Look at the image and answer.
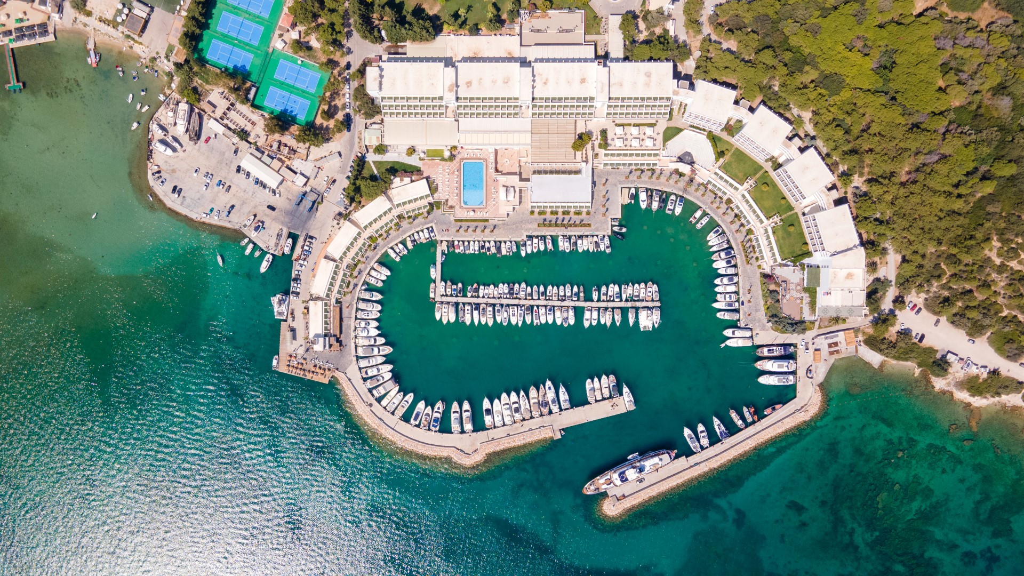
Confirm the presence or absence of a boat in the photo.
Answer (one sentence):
Yes, the image includes a boat.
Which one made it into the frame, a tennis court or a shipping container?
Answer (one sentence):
Of the two, only a tennis court appears.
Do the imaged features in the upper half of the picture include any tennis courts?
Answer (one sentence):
Yes, a tennis court shows up in the upper half of the picture.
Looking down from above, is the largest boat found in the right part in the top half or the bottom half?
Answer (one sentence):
It is in the bottom half that the largest boat found in the right part appears.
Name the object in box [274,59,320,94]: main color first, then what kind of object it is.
blue tennis court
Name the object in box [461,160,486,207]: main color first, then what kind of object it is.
blue swimming pool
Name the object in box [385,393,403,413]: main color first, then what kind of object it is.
white boat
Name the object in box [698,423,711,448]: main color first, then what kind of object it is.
white boat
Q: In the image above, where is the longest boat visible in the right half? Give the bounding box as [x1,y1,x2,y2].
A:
[583,449,676,493]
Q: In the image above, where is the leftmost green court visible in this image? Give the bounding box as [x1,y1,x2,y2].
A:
[193,0,285,82]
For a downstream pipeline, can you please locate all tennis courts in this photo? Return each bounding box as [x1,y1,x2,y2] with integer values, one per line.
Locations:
[251,49,331,125]
[264,86,310,120]
[193,0,285,82]
[227,0,274,18]
[274,59,320,94]
[217,11,264,46]
[207,39,254,73]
